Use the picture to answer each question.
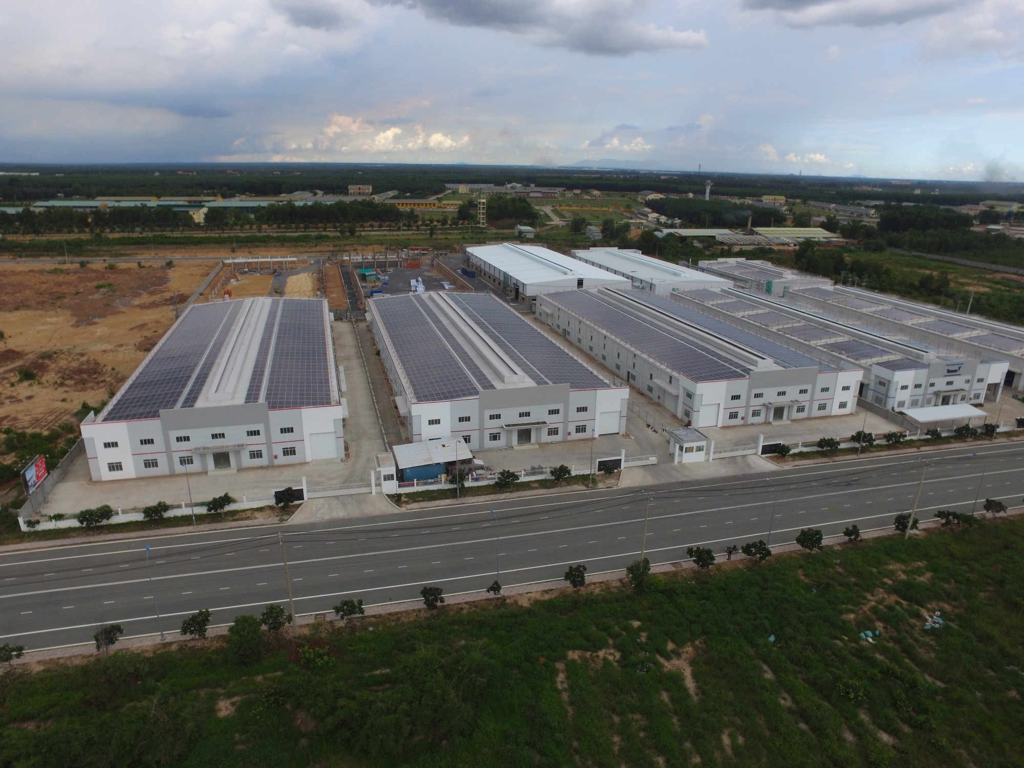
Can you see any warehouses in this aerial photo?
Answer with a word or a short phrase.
Yes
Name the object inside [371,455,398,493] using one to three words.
building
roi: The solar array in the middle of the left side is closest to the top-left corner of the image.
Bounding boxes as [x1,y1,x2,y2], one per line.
[104,299,326,421]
